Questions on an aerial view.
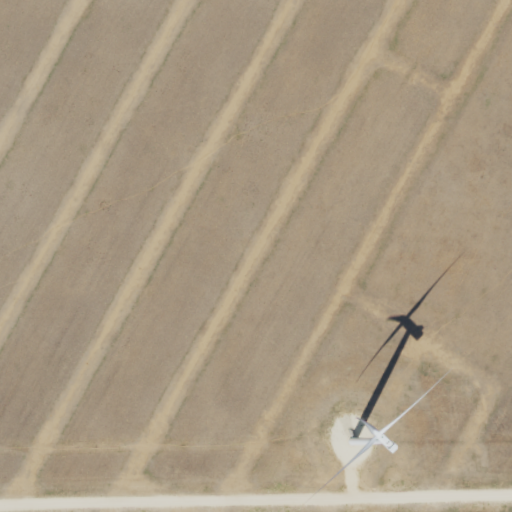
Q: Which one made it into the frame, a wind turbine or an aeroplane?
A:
wind turbine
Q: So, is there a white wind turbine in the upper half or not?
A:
No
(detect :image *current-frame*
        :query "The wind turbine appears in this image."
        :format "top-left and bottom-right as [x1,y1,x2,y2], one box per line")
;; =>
[324,365,450,492]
